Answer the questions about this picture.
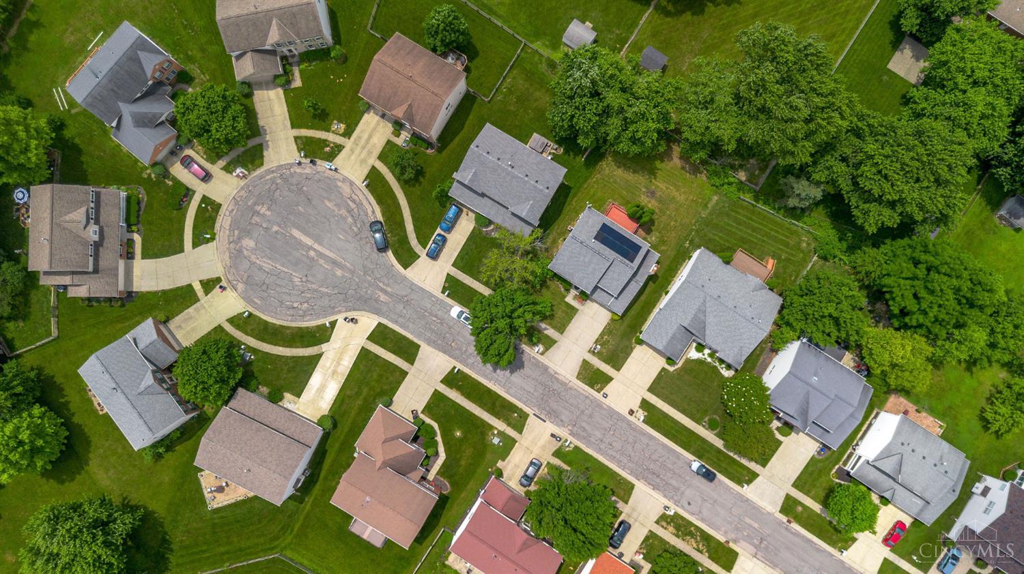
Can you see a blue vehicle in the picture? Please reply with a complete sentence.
Yes, I can see a blue vehicle in this picture.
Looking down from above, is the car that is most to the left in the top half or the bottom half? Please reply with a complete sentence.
It is in the top half that the car that is most to the left appears.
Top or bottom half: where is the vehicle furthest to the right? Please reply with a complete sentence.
The vehicle furthest to the right is in the bottom half of the image.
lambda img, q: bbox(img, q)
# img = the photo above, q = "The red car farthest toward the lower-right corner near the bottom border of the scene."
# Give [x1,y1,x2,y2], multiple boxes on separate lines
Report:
[881,518,906,550]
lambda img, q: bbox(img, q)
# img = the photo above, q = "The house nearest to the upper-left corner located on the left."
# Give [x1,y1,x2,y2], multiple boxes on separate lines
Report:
[63,20,184,166]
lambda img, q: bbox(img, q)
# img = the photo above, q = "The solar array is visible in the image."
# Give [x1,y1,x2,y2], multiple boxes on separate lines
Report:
[595,222,642,263]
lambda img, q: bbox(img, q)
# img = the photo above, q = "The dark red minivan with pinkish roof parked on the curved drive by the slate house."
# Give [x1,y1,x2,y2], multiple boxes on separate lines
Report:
[178,152,213,183]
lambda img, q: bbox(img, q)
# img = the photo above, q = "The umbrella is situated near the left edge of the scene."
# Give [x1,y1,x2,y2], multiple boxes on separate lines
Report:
[15,189,30,203]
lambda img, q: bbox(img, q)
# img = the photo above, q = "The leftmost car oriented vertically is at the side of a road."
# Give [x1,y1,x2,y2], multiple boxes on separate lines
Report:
[370,219,389,253]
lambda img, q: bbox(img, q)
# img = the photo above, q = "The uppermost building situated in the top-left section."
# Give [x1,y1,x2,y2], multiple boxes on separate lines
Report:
[217,0,331,83]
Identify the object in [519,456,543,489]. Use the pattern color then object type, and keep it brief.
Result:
gray car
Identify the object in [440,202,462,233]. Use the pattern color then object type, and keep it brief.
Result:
blue vehicle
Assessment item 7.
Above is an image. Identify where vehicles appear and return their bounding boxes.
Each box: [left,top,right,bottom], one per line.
[447,306,480,333]
[178,152,213,183]
[687,459,718,484]
[881,518,906,550]
[934,545,962,574]
[440,202,462,233]
[370,219,389,253]
[609,518,631,550]
[426,233,446,262]
[519,456,543,489]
